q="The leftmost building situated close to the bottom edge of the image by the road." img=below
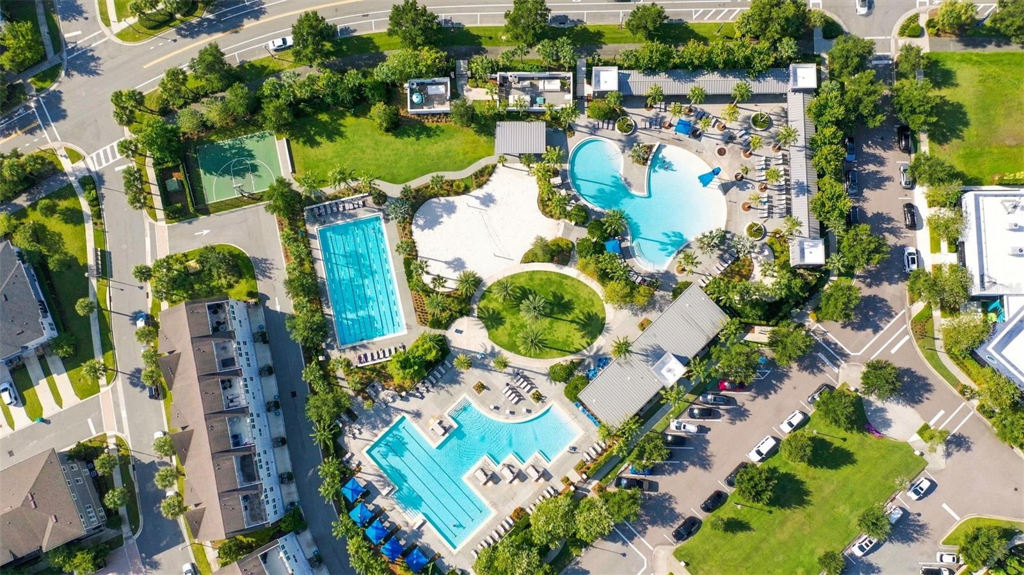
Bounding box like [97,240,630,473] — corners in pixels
[0,446,106,568]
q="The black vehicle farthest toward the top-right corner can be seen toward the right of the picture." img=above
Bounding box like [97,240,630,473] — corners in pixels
[896,126,911,151]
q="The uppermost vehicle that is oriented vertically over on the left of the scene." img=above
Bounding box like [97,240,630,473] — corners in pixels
[134,305,149,335]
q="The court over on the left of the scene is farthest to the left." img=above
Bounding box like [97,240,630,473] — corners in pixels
[196,131,285,204]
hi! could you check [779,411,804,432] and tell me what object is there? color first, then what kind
white car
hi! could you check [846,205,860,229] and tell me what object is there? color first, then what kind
black car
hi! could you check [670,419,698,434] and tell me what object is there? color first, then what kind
white car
